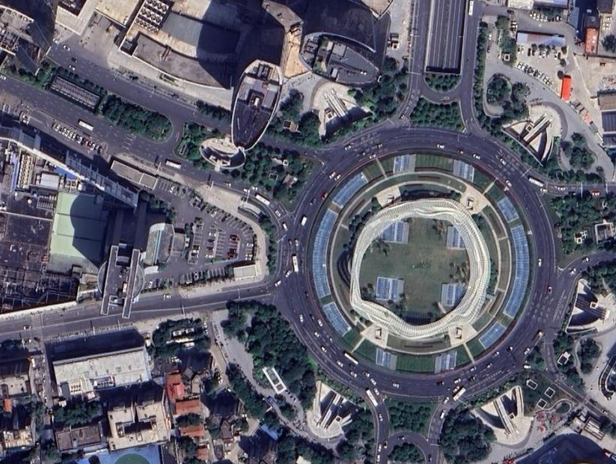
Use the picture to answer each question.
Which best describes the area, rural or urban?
urban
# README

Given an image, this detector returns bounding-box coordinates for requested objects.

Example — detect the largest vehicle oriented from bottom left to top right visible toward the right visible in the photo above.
[451,387,466,404]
